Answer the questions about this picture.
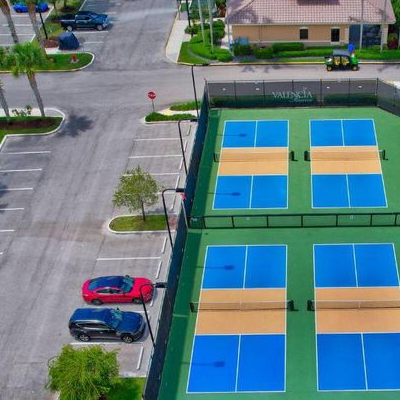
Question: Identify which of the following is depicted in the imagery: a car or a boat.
car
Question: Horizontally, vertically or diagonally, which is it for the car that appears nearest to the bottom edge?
horizontally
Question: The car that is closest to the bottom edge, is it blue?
Yes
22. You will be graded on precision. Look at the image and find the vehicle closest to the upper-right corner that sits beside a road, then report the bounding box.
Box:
[326,47,360,71]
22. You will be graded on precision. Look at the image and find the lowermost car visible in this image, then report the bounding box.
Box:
[66,307,145,344]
